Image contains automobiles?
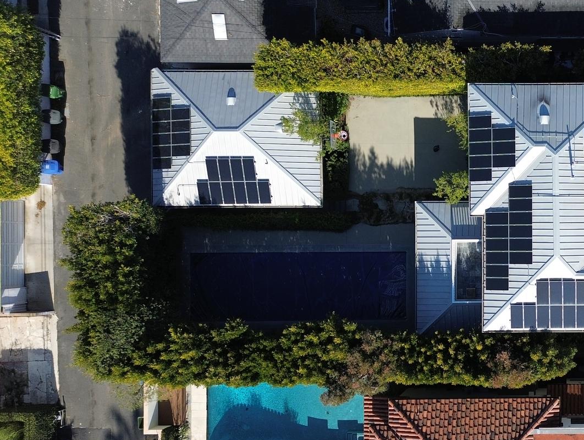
No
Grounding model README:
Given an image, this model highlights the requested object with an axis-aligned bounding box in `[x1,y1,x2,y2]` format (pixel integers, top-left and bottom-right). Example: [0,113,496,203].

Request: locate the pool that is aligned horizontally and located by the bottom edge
[207,373,385,440]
